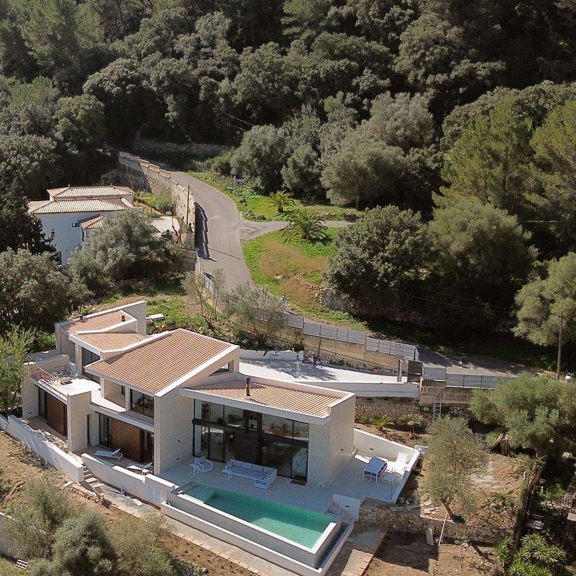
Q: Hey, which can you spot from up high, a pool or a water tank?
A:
pool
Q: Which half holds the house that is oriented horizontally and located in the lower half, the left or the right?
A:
left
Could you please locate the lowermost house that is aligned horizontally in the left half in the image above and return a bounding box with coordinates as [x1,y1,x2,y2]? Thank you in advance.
[19,300,356,488]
